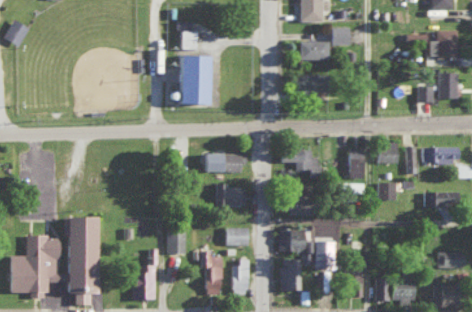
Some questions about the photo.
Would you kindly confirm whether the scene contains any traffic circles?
No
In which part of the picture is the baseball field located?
top left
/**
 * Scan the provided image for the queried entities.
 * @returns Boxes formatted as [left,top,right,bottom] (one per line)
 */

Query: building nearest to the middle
[206,152,246,181]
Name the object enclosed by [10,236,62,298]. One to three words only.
building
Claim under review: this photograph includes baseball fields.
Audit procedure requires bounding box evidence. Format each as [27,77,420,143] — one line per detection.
[16,0,144,116]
